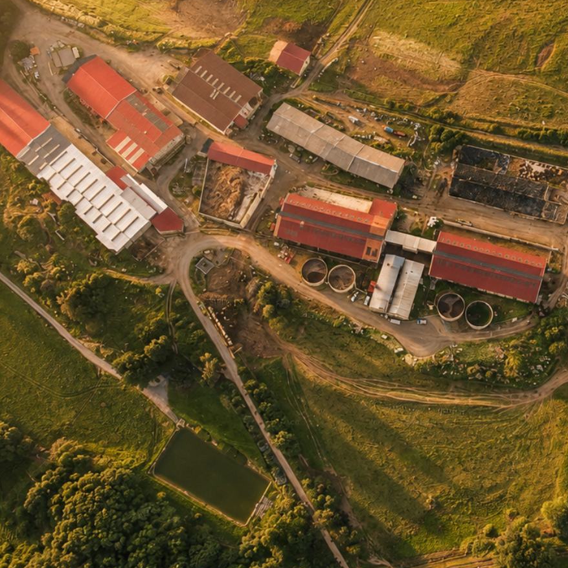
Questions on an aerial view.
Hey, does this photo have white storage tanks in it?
No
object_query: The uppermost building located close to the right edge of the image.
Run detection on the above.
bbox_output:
[448,145,568,225]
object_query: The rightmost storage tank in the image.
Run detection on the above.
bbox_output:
[466,301,494,329]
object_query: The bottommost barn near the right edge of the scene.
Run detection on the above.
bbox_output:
[428,231,548,304]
